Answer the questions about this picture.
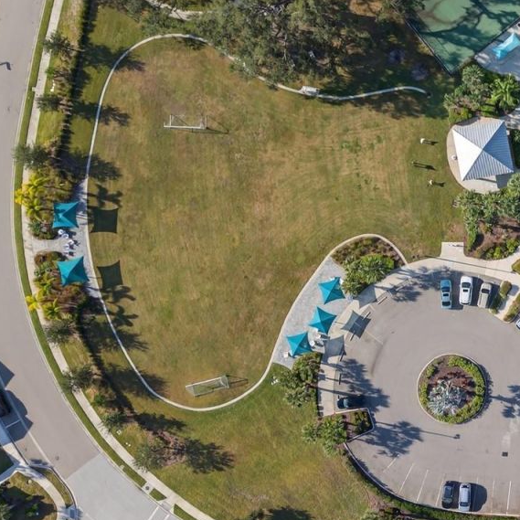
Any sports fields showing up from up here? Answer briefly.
Yes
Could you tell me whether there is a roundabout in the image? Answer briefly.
Yes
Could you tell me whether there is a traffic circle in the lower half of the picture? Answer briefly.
Yes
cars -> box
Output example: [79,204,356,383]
[0,390,14,418]
[457,275,473,307]
[336,394,366,409]
[439,278,453,309]
[478,279,493,310]
[457,480,472,513]
[441,478,456,510]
